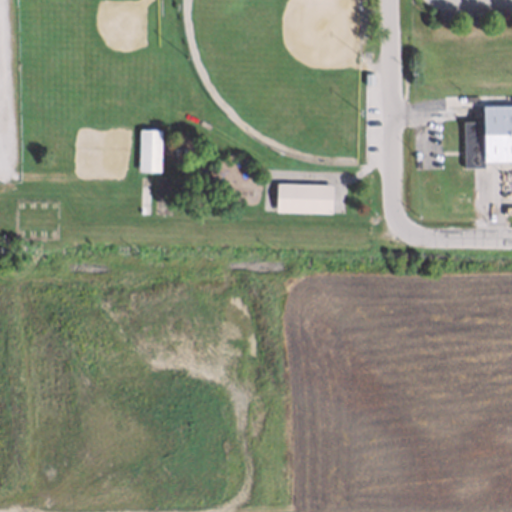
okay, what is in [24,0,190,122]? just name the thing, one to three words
baseball field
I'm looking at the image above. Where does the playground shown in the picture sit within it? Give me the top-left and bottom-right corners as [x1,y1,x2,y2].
[212,164,262,206]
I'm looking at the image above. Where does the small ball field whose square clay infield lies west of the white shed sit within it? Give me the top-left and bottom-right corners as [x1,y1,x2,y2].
[24,122,140,200]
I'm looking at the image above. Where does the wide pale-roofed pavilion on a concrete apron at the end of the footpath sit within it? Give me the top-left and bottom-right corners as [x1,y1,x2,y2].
[278,183,334,214]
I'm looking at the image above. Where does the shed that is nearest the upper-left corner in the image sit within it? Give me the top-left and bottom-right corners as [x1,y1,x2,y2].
[140,129,163,172]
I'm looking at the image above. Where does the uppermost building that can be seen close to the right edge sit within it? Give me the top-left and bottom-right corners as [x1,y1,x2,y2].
[464,106,512,168]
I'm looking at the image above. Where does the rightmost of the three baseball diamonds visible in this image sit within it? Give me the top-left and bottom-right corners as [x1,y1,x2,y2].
[194,0,366,156]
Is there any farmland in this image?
Yes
